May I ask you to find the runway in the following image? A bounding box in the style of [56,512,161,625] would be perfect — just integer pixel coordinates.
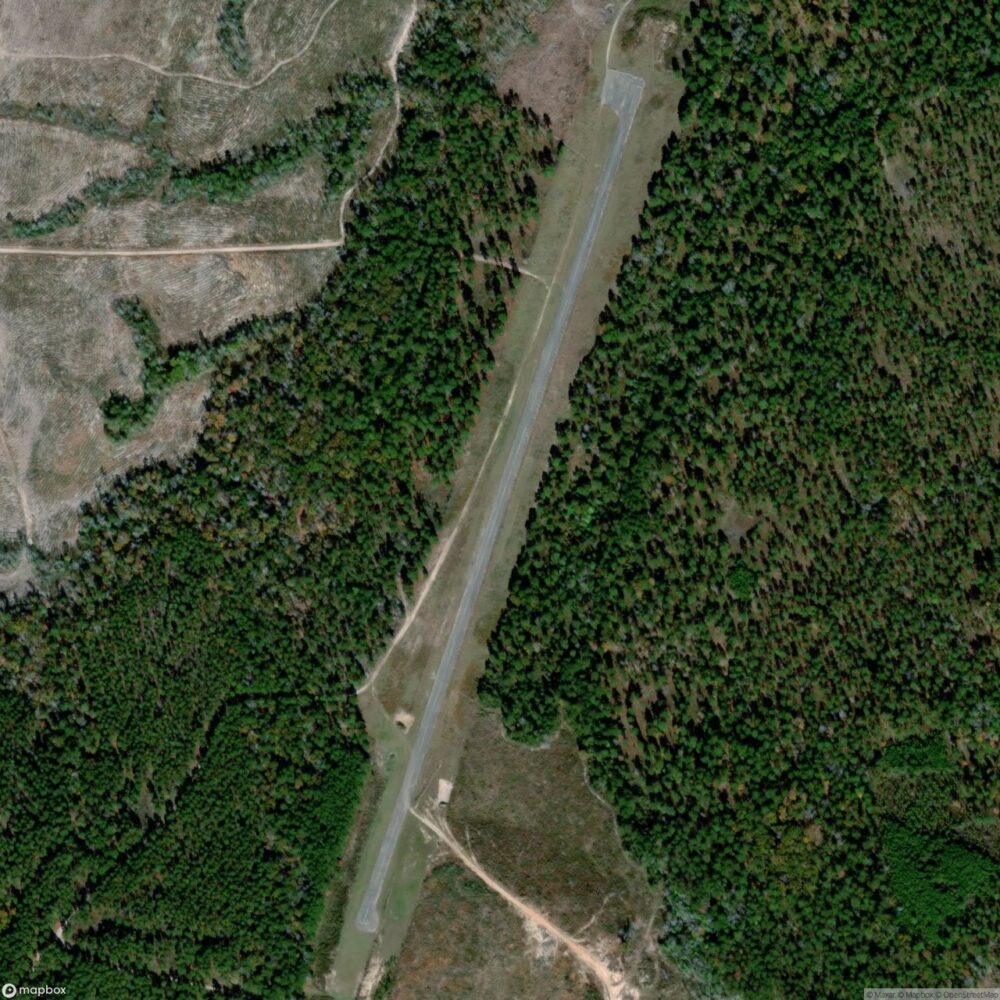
[356,69,646,933]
